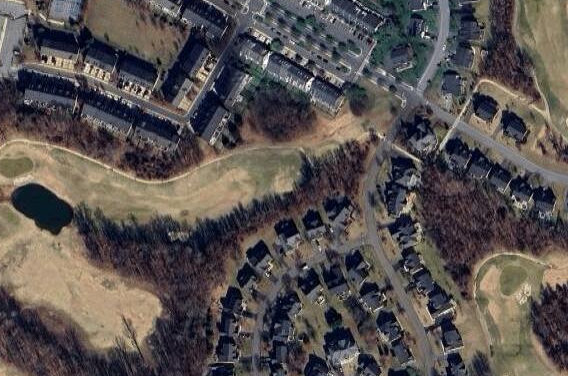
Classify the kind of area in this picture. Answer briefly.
residential area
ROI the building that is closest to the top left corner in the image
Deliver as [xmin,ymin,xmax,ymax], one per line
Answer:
[36,35,81,65]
